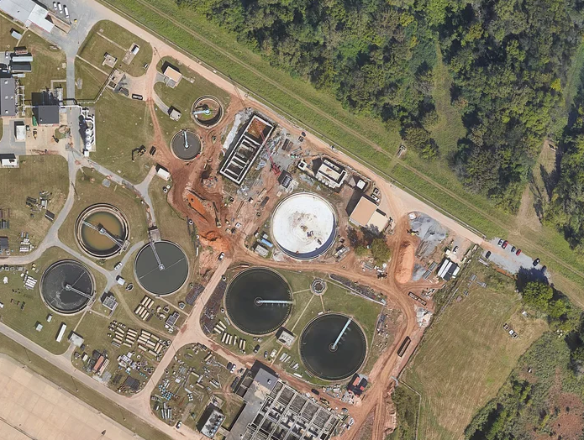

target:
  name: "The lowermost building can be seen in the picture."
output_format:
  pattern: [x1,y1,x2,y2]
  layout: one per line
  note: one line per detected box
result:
[200,407,227,439]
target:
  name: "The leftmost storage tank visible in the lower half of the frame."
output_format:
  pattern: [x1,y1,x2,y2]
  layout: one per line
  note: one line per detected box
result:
[39,258,98,316]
